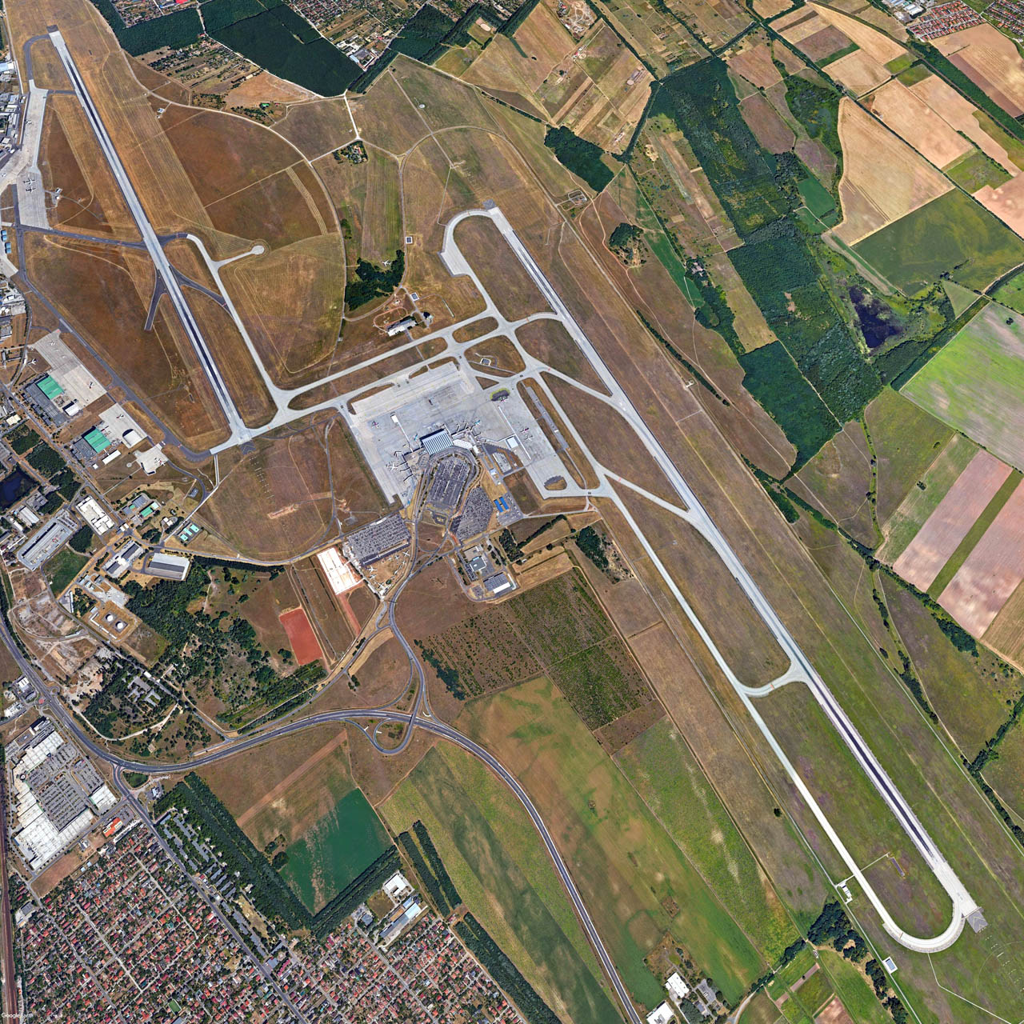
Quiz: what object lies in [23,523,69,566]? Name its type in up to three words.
shed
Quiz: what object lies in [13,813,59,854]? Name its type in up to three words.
building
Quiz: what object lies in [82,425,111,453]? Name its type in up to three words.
hangar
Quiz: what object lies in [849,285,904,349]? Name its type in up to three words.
pond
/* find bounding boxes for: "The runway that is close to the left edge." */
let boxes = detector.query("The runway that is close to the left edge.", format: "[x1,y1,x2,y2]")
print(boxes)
[46,24,255,454]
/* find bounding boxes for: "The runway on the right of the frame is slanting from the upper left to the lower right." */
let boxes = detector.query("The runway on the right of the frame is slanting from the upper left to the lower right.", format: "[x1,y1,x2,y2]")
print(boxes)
[482,199,988,932]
